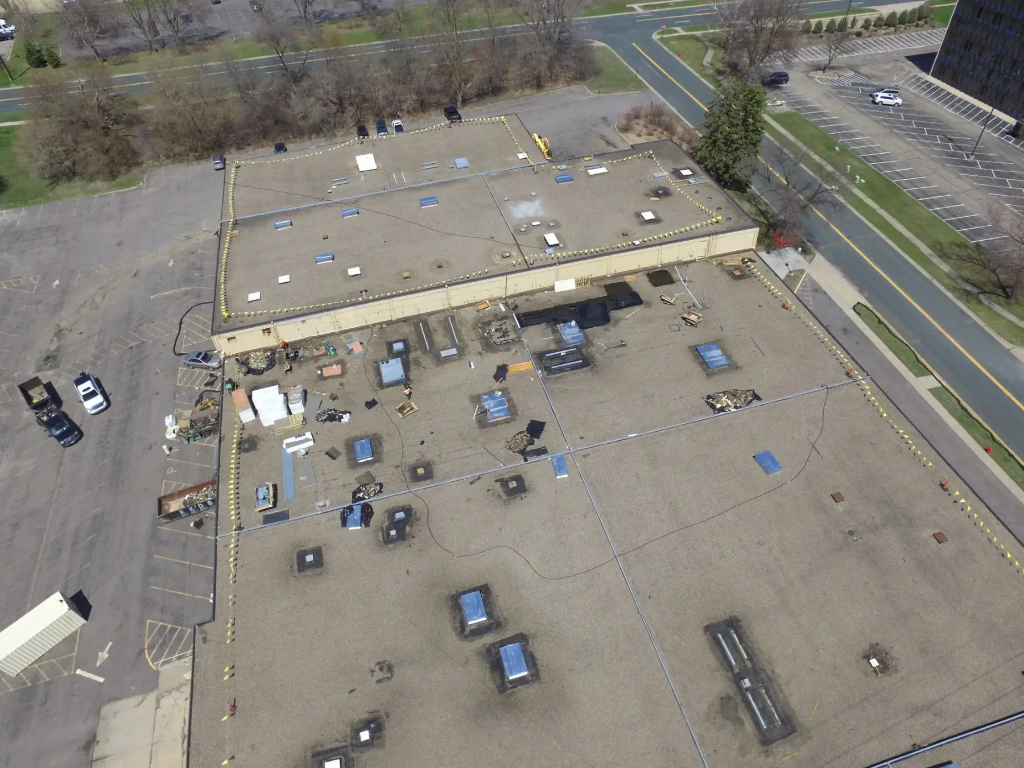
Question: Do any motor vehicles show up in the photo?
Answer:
Yes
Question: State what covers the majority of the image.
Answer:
buildings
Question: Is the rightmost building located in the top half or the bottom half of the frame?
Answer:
top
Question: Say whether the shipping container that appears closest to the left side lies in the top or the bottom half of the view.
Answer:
bottom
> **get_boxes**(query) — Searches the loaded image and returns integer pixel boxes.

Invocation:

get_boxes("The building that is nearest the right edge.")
[929,0,1024,122]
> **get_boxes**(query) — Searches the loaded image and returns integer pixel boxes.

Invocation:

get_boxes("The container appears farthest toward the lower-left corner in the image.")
[0,590,86,676]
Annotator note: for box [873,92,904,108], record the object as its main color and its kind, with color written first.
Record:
white car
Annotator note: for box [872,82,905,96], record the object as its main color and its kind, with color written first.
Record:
gray car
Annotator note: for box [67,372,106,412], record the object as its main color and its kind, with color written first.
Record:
white truck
